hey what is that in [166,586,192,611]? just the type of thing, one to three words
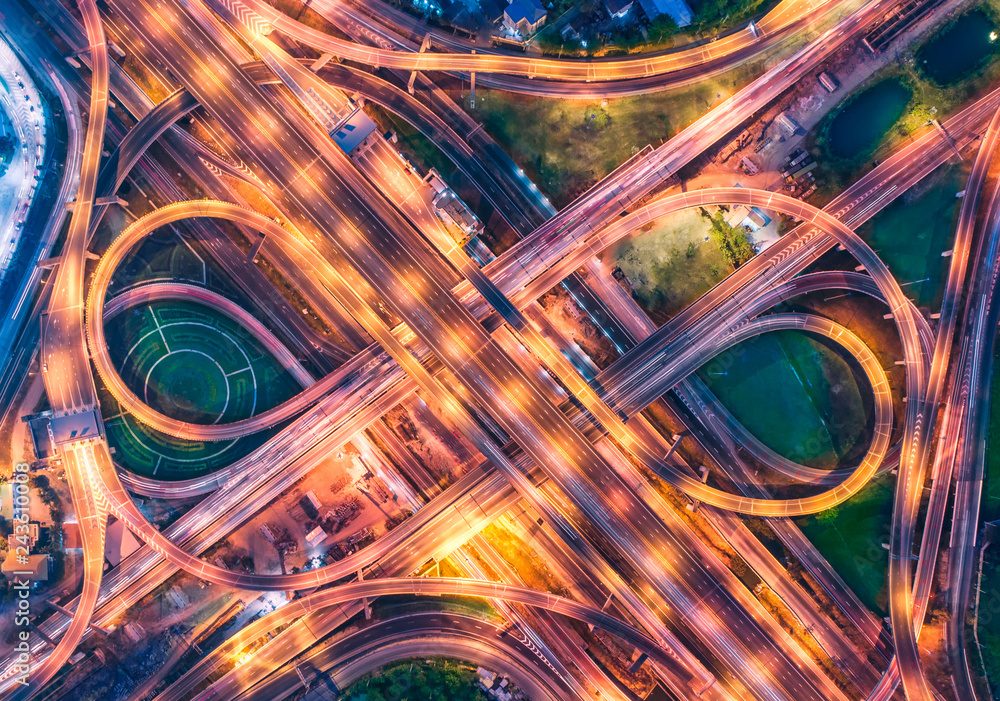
shed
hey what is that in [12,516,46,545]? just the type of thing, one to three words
building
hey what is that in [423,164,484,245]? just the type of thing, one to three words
building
